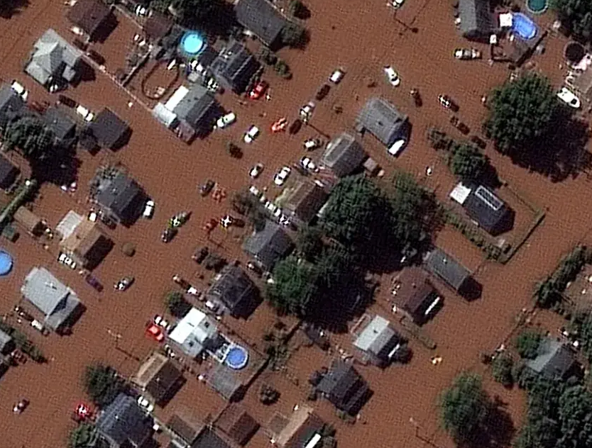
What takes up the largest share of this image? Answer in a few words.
water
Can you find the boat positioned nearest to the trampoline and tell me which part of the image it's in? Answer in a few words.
top right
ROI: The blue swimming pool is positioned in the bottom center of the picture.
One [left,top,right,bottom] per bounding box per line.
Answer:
[225,345,247,368]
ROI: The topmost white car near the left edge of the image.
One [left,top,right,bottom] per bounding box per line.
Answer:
[9,80,30,98]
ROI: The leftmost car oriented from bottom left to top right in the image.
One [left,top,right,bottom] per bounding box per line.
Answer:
[12,397,31,417]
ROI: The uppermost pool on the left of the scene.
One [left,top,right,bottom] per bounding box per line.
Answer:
[180,31,205,54]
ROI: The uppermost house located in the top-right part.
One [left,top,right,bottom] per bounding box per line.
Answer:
[459,0,489,35]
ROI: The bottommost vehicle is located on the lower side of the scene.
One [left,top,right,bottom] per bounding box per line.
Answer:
[303,431,324,448]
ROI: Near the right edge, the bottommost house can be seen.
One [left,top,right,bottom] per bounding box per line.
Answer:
[528,337,576,384]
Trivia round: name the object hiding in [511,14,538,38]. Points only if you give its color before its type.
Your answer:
blue swimming pool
